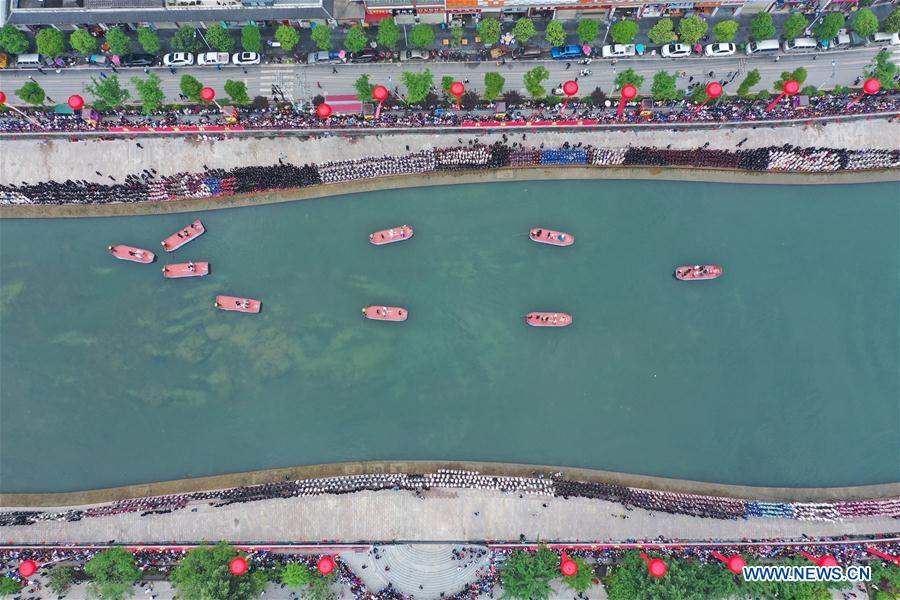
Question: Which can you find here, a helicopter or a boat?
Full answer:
It is a boat that can be seen here.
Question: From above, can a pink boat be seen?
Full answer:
Yes, the image includes a pink boat.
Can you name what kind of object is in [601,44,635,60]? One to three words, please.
vehicle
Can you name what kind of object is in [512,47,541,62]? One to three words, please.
car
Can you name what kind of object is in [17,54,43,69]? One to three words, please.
vehicle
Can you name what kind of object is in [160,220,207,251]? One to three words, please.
boat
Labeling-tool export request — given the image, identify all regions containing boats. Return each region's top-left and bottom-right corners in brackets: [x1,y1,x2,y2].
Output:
[214,295,264,314]
[160,220,207,251]
[163,262,211,278]
[110,246,158,264]
[528,228,576,246]
[363,306,410,322]
[368,226,414,244]
[526,312,573,328]
[674,264,723,279]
